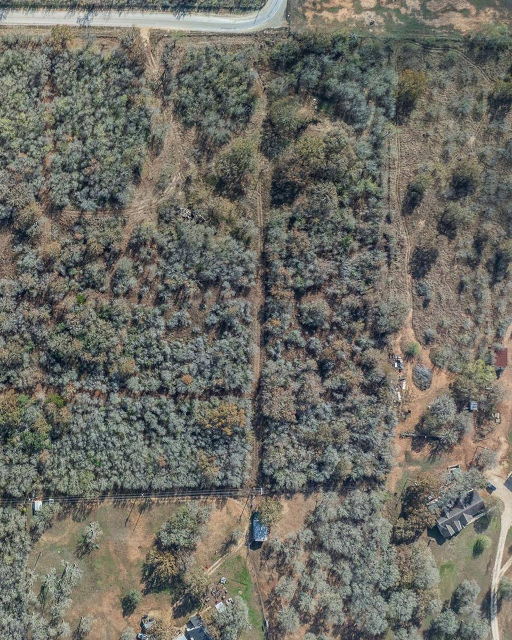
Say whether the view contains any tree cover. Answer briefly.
Yes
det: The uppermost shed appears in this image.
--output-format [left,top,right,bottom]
[492,348,508,367]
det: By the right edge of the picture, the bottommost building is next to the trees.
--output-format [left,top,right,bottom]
[436,490,489,535]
